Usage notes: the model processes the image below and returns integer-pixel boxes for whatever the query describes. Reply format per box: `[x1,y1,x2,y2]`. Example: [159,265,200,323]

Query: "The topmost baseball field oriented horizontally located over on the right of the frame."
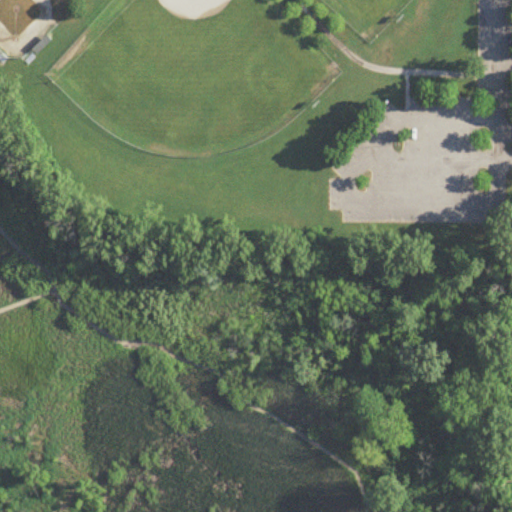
[322,0,412,42]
